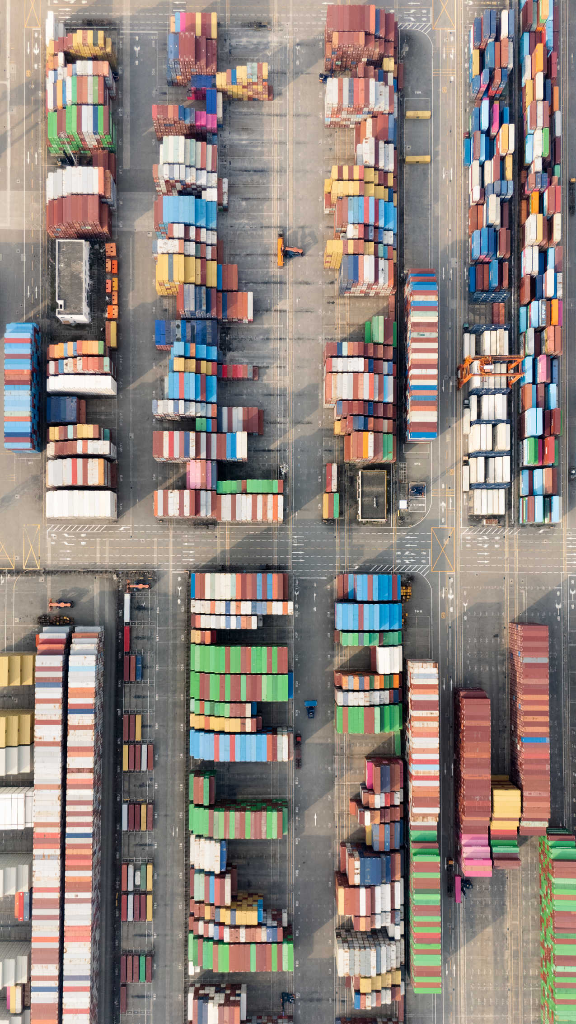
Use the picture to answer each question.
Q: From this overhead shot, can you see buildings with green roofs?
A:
No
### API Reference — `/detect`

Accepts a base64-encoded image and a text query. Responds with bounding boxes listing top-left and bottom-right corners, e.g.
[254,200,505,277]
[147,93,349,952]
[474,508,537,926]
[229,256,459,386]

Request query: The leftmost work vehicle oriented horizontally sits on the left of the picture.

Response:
[46,598,73,611]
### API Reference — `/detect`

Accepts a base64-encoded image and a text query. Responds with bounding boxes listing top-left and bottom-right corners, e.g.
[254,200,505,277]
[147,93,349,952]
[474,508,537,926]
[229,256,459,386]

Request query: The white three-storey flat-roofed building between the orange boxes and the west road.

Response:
[56,240,91,323]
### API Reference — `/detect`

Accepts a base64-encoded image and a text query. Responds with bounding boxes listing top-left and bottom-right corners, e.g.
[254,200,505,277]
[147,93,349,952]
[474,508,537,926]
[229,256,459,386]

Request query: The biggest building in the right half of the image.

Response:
[358,471,387,521]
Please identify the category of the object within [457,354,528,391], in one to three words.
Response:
container crane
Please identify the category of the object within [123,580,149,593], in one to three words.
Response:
vehicle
